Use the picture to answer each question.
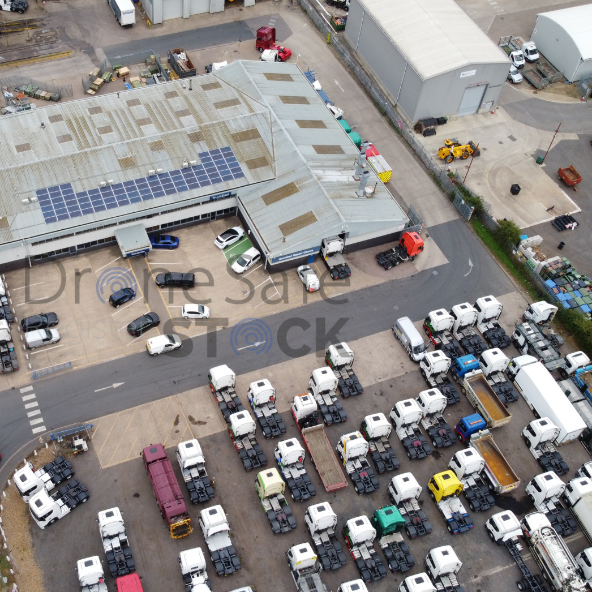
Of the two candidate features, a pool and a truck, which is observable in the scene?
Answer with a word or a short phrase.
truck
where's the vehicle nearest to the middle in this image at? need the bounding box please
[296,265,321,295]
